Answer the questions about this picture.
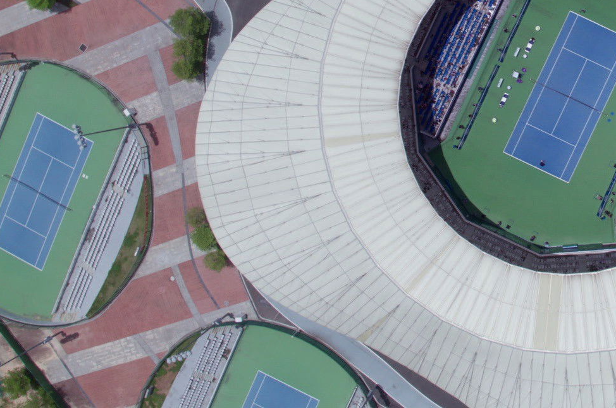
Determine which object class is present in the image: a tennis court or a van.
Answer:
tennis court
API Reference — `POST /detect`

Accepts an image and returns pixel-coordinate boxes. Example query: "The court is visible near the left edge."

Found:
[0,62,133,318]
